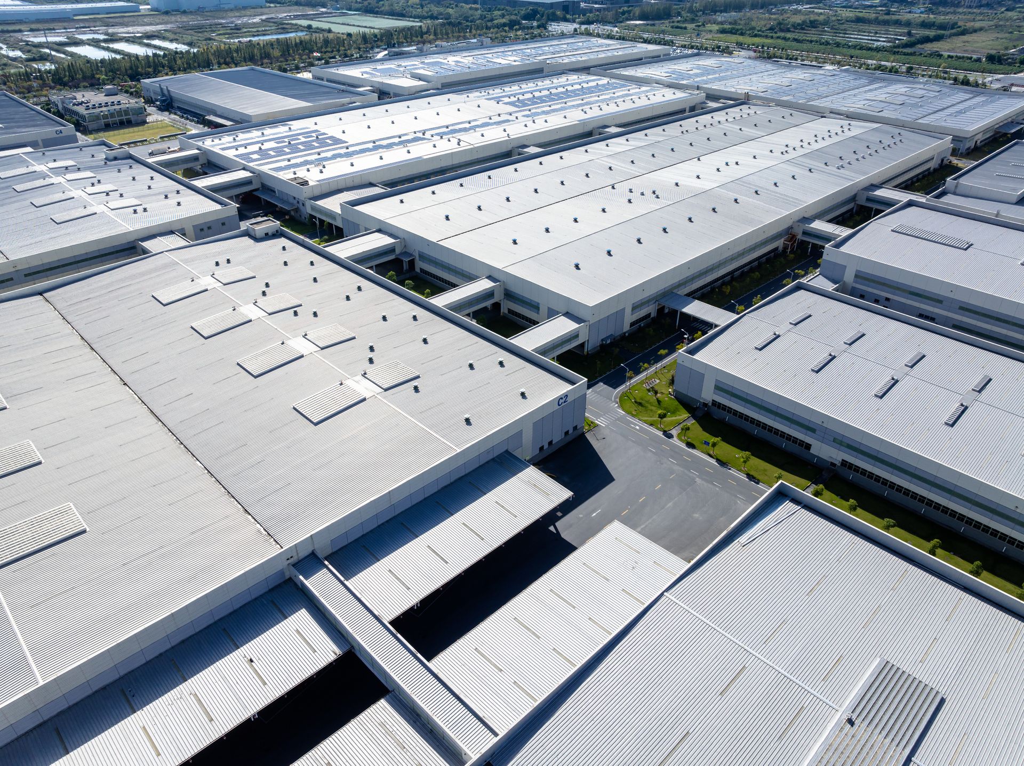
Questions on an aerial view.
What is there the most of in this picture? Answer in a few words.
buildings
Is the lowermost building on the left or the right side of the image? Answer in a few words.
right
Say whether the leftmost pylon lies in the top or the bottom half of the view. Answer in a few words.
top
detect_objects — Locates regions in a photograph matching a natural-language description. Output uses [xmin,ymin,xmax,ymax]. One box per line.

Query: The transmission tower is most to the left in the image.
[29,0,54,59]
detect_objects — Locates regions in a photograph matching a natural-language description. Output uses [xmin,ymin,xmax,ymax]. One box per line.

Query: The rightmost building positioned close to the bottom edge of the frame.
[472,483,1024,766]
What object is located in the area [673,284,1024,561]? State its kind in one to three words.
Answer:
building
